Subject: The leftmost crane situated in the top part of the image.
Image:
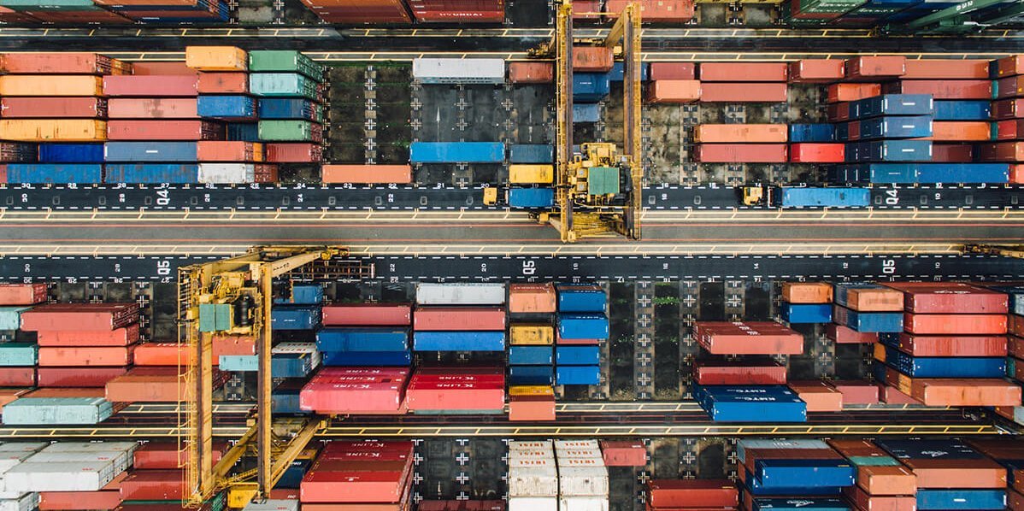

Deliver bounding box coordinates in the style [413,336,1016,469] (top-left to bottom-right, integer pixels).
[529,1,644,242]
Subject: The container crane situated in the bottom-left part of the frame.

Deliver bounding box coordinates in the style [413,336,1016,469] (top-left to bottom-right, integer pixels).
[175,241,349,508]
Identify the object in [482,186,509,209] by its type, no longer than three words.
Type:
truck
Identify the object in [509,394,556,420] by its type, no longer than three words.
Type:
shipping container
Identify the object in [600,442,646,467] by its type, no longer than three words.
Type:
shipping container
